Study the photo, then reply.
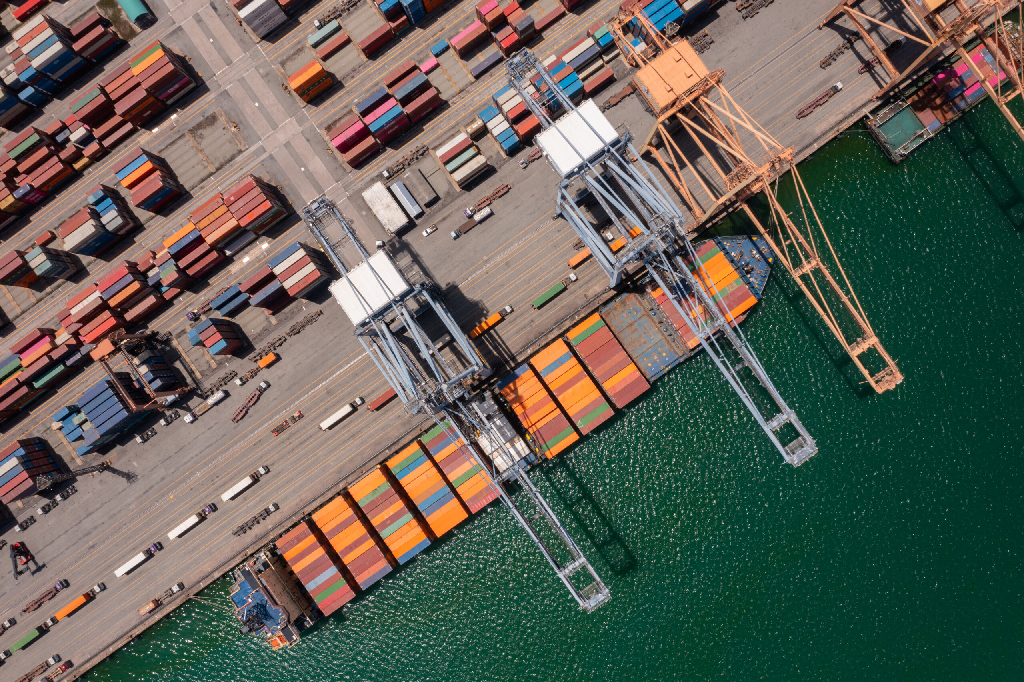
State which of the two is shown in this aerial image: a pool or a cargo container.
cargo container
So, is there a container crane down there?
Yes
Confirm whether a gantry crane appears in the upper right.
Yes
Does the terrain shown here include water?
Yes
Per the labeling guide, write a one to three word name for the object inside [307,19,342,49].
shipping container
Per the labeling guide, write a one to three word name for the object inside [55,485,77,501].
vehicle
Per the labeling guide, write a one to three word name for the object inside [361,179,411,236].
building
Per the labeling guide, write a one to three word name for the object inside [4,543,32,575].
work vehicle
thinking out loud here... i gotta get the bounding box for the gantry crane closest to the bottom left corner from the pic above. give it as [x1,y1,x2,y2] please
[85,315,187,413]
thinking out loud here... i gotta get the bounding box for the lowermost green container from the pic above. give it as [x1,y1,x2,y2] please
[14,620,51,648]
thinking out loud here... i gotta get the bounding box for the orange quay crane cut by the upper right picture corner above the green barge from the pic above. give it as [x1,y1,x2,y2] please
[811,0,1024,134]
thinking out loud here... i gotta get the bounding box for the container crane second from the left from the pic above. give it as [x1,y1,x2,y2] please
[295,192,609,609]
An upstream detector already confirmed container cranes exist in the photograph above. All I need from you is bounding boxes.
[295,192,609,609]
[602,0,909,393]
[497,45,820,464]
[85,315,187,413]
[811,0,1024,134]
